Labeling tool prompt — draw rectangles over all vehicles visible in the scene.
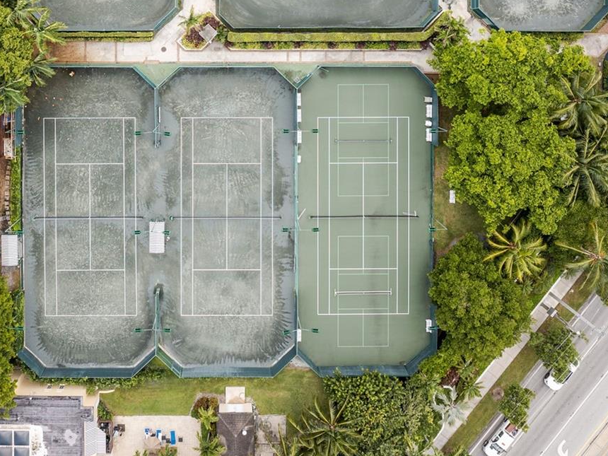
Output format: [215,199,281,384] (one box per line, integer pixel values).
[485,417,527,456]
[545,373,573,393]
